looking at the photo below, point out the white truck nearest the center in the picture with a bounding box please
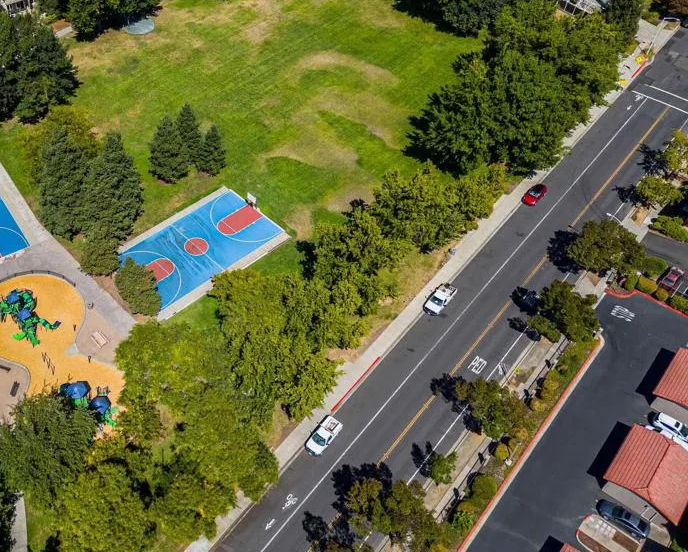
[424,279,459,314]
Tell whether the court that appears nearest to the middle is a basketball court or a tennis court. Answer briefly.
basketball court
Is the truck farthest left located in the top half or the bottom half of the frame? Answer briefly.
bottom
